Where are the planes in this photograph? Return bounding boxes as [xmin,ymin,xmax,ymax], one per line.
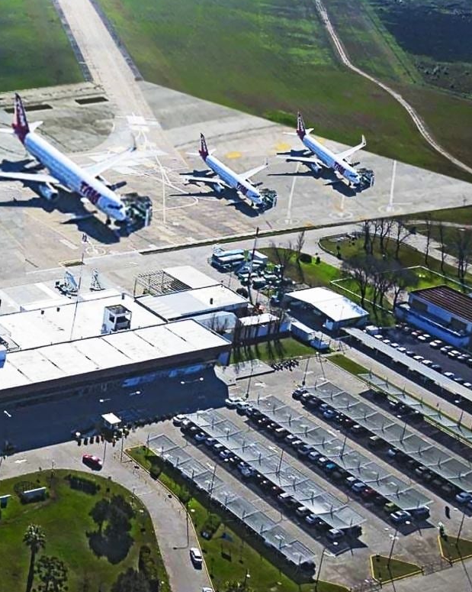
[0,91,133,228]
[174,132,267,208]
[272,111,365,186]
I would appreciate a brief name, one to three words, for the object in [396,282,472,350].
building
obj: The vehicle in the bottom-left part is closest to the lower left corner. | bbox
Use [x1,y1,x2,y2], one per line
[83,455,101,468]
